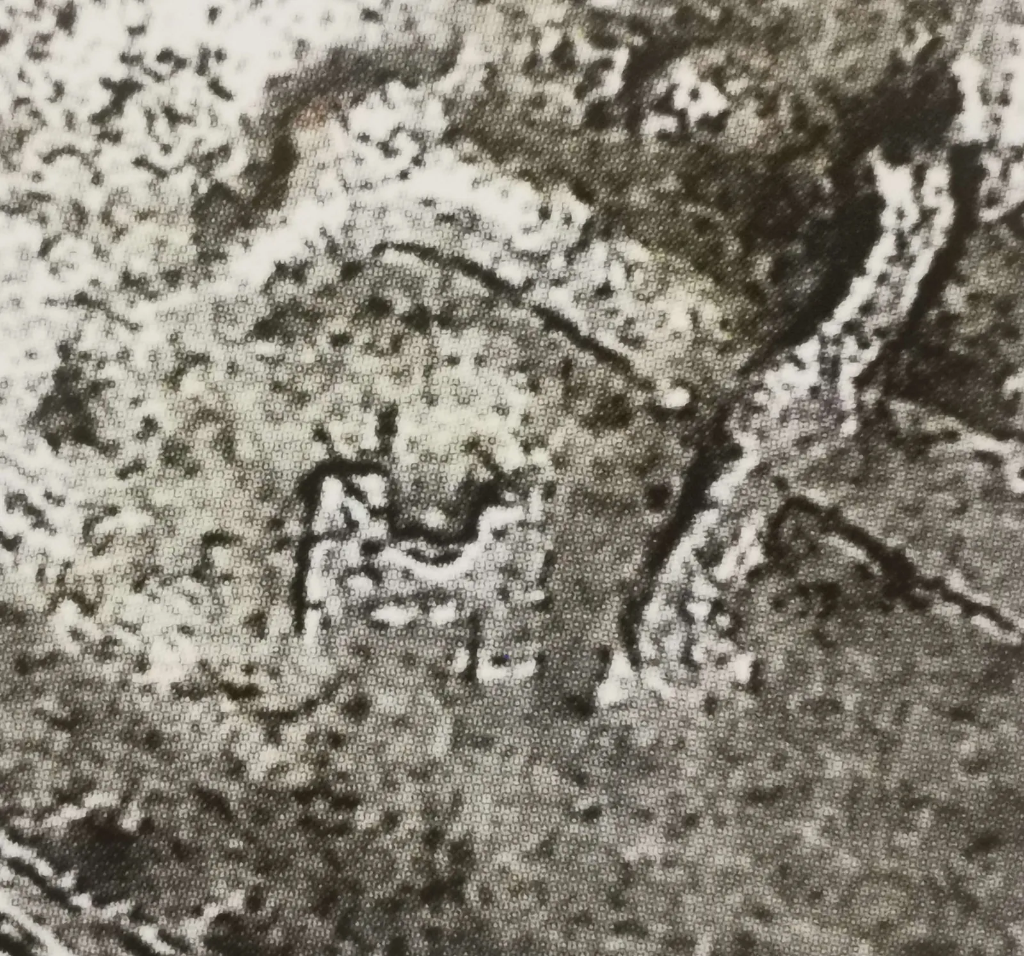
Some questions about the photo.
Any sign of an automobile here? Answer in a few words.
No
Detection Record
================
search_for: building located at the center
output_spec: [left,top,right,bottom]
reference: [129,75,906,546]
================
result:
[301,468,544,685]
